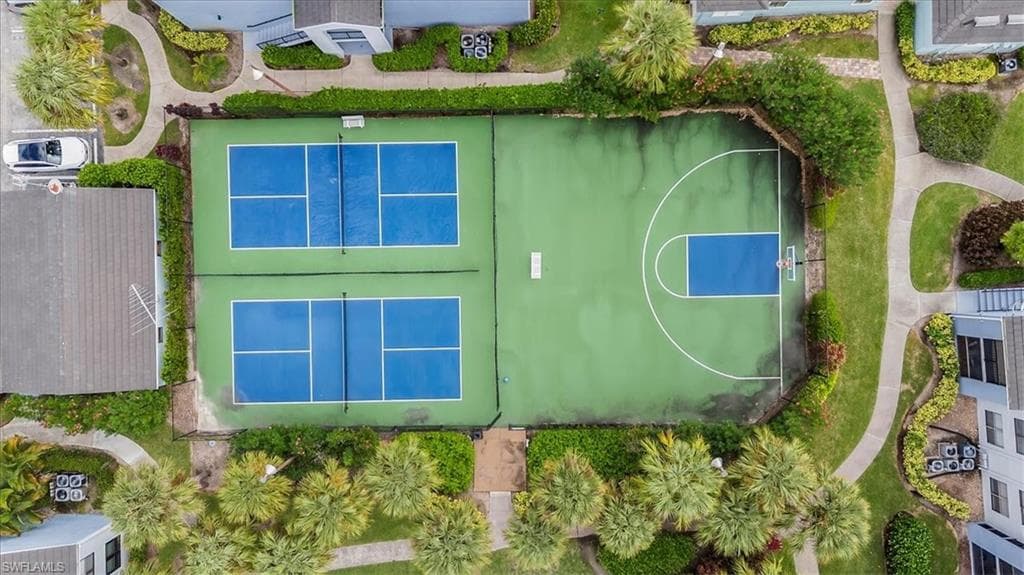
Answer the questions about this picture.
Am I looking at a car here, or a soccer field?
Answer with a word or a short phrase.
car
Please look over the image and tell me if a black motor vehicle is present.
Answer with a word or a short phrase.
No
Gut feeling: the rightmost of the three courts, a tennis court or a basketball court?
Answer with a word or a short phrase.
basketball court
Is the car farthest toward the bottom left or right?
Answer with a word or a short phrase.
left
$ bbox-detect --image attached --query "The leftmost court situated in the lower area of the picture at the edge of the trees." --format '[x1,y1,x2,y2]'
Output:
[193,273,499,431]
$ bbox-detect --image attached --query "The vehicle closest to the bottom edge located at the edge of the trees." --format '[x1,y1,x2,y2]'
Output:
[4,134,95,174]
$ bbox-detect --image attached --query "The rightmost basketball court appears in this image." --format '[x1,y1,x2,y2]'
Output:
[495,110,806,430]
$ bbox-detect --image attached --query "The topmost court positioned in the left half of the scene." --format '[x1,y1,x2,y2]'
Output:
[190,113,497,275]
